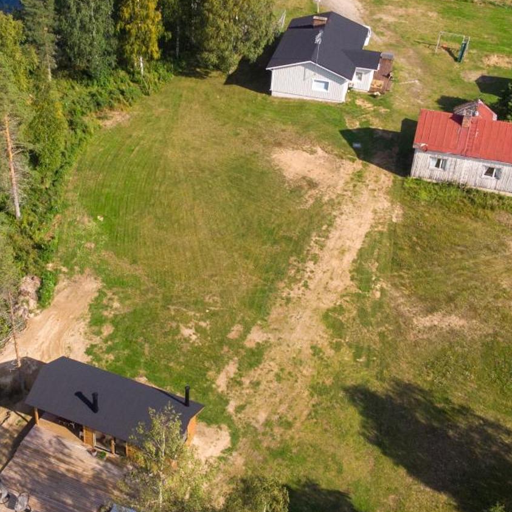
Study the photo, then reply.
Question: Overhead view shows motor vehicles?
No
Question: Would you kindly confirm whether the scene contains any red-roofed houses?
Yes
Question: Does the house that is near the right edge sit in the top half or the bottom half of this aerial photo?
top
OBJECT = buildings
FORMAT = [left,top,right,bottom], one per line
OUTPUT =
[24,356,208,480]
[411,97,512,194]
[266,11,383,103]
